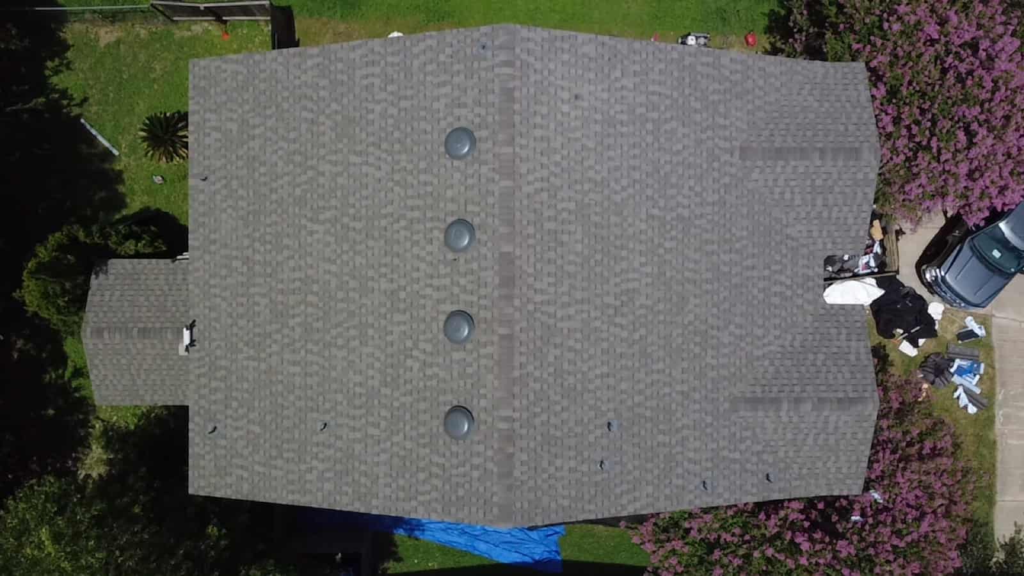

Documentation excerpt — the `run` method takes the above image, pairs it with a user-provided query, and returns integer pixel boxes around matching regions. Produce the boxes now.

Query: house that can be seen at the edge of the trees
[82,23,882,529]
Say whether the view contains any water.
No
